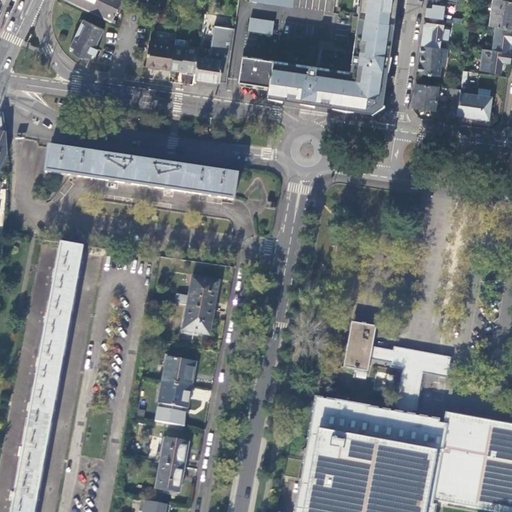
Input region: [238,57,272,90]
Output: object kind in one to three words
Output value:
building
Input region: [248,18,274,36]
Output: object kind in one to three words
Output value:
building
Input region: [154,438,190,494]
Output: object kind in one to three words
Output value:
house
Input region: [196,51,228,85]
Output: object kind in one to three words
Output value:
house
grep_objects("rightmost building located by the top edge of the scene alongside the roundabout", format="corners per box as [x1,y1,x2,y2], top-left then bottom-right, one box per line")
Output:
[266,0,397,116]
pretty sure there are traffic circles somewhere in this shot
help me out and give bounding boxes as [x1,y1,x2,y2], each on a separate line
[276,119,334,181]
